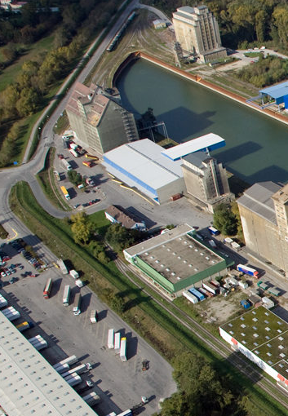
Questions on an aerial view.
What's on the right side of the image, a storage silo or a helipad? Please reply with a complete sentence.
What appears on the right side of the image is a storage silo.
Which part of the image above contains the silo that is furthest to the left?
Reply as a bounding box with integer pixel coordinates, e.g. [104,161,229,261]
[69,86,143,153]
